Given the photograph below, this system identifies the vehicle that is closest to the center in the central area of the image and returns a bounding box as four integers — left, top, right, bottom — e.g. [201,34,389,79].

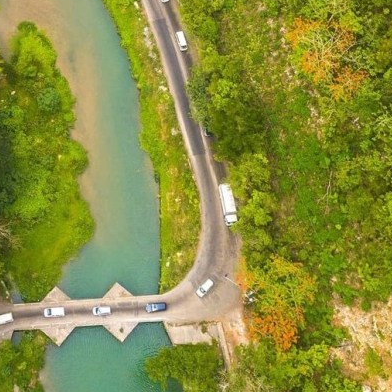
[219,183,238,225]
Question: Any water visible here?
Yes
